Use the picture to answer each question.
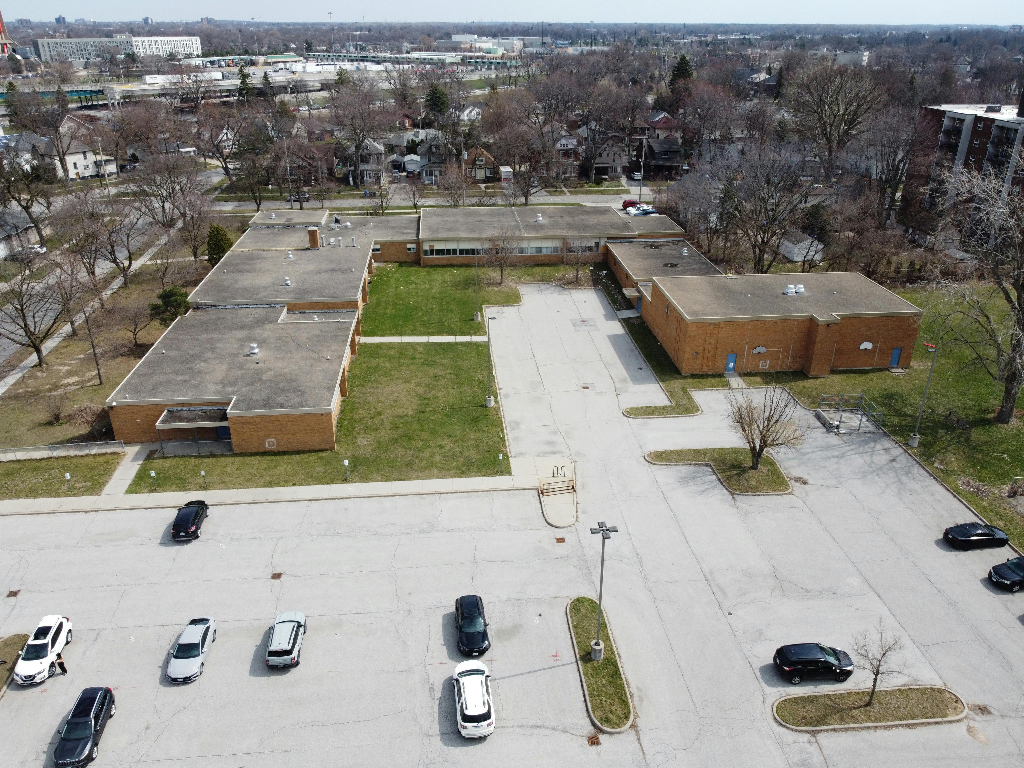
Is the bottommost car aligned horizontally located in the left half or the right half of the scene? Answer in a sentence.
The bottommost car aligned horizontally is on the right side of the image.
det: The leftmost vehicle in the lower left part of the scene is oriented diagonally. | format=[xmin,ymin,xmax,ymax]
[12,617,71,688]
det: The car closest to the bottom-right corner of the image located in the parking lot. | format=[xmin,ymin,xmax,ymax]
[992,561,1024,592]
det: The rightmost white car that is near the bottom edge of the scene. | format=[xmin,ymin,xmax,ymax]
[453,659,495,739]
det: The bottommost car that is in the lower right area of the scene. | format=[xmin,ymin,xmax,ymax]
[771,642,858,684]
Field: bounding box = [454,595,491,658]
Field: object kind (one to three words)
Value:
car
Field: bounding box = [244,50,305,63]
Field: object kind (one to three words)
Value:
building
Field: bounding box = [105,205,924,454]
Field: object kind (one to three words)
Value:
building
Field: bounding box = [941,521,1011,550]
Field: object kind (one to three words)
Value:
car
